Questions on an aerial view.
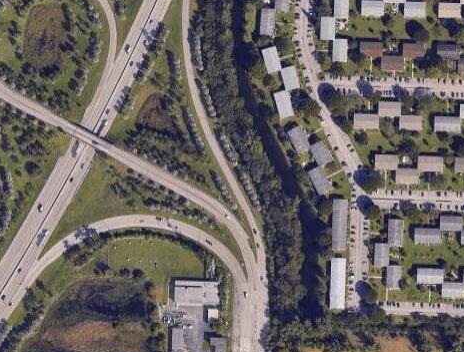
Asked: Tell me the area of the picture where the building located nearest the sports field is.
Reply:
bottom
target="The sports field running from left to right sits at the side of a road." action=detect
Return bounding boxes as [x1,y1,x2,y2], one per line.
[108,237,203,282]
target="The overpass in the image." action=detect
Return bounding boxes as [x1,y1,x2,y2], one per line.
[50,111,131,158]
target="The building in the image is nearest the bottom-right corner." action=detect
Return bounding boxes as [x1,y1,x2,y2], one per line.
[443,283,464,298]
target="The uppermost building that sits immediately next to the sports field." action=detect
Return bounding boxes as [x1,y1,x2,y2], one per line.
[175,280,219,305]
